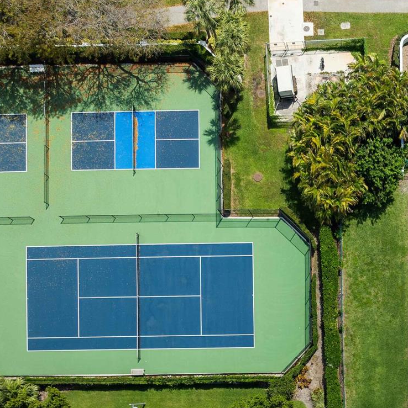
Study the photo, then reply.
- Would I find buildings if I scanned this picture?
No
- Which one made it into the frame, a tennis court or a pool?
tennis court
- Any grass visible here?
Yes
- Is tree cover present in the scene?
Yes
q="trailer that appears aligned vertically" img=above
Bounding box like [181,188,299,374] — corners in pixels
[276,64,297,106]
